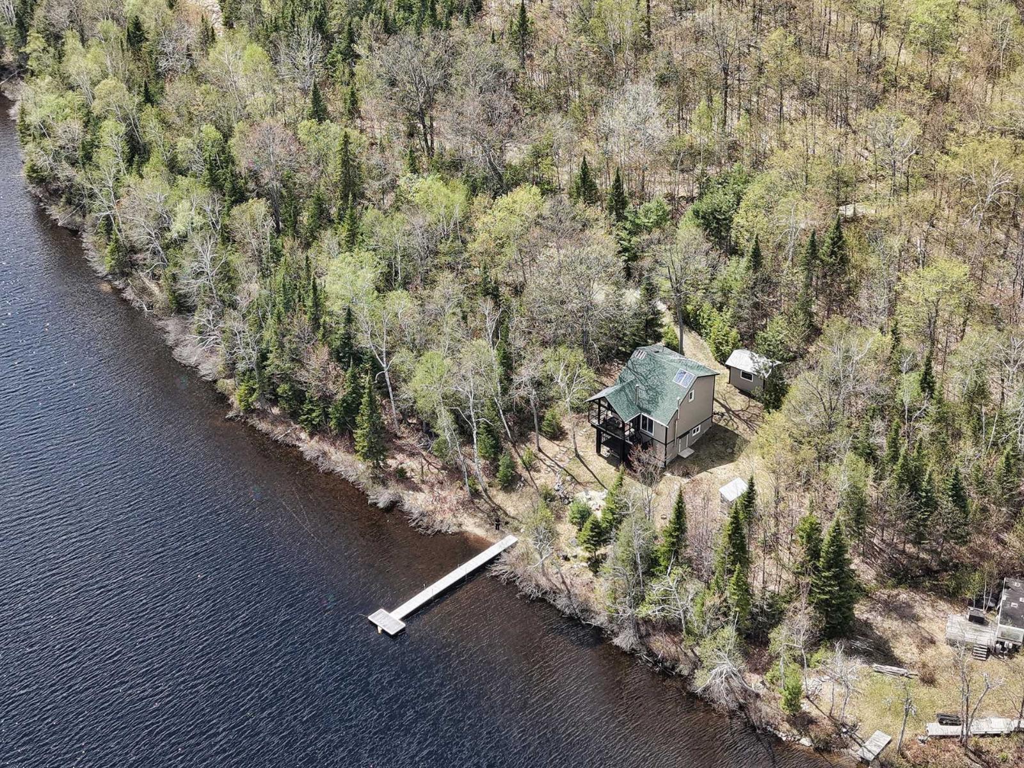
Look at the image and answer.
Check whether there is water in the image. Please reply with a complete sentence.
Yes, there's water in this view.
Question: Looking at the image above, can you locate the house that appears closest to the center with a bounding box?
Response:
[585,344,720,472]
